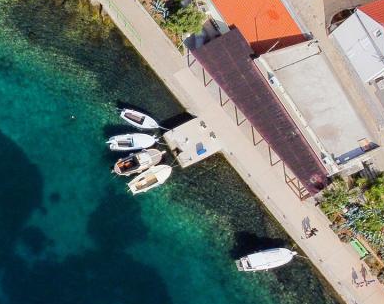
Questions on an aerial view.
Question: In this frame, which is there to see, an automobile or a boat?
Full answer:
I can see a boat in this picture.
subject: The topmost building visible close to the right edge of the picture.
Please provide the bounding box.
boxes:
[328,0,384,82]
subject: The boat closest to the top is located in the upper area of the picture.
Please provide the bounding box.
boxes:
[118,110,160,128]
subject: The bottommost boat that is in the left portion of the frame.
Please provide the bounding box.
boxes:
[126,165,172,196]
